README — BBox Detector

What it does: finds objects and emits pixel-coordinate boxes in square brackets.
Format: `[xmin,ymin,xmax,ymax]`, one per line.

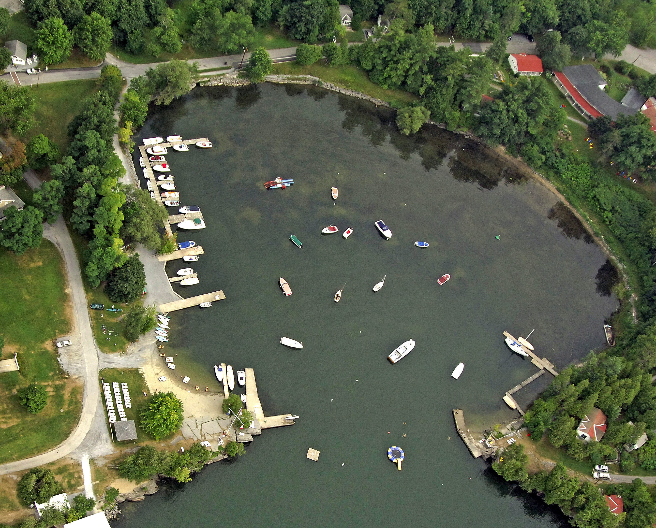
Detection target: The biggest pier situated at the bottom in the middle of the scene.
[245,368,295,429]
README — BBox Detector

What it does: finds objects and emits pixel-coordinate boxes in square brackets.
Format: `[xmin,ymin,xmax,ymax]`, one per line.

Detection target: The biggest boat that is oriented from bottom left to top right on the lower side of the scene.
[387,341,414,363]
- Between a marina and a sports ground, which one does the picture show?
marina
